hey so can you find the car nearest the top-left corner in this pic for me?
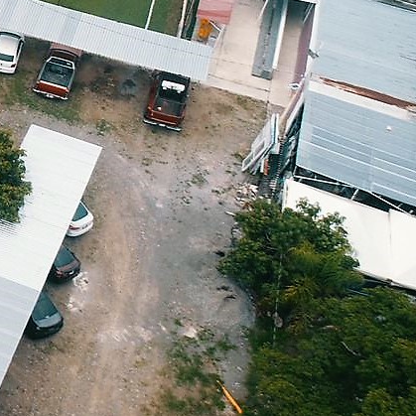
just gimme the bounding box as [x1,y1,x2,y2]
[0,28,29,72]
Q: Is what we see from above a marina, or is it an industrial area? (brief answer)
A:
industrial area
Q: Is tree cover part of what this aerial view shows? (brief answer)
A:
Yes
